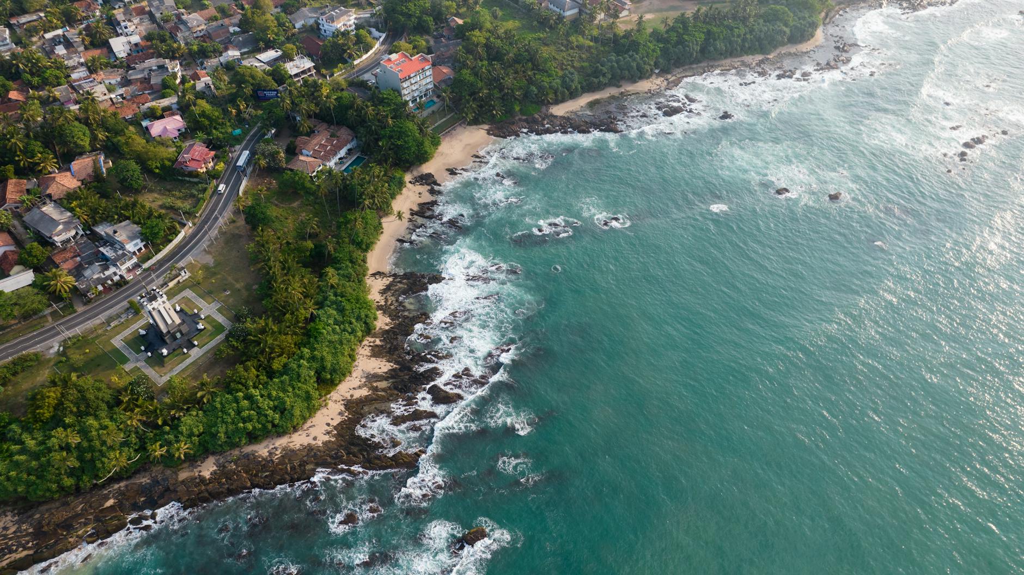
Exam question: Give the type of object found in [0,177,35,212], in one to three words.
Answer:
house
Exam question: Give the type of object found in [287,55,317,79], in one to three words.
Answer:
building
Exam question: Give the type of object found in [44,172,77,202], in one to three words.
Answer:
house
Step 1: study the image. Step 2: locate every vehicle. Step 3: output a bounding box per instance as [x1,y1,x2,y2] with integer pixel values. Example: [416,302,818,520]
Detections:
[366,78,376,84]
[233,148,250,172]
[217,185,225,194]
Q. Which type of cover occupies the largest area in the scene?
water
